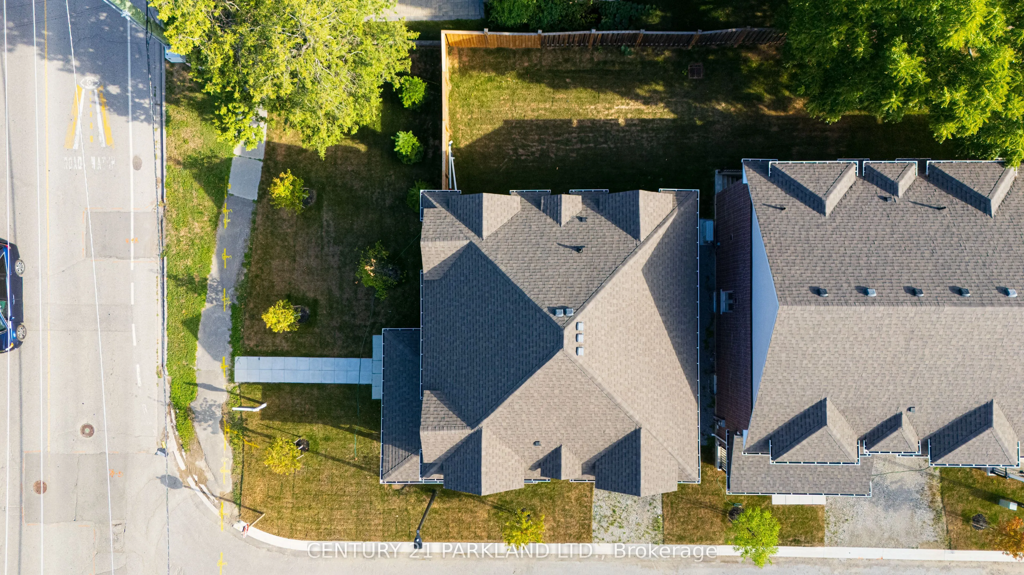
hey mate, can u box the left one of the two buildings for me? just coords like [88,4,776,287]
[381,189,700,498]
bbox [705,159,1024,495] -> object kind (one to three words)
house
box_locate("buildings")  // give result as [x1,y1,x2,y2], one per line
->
[705,159,1024,495]
[381,189,700,498]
